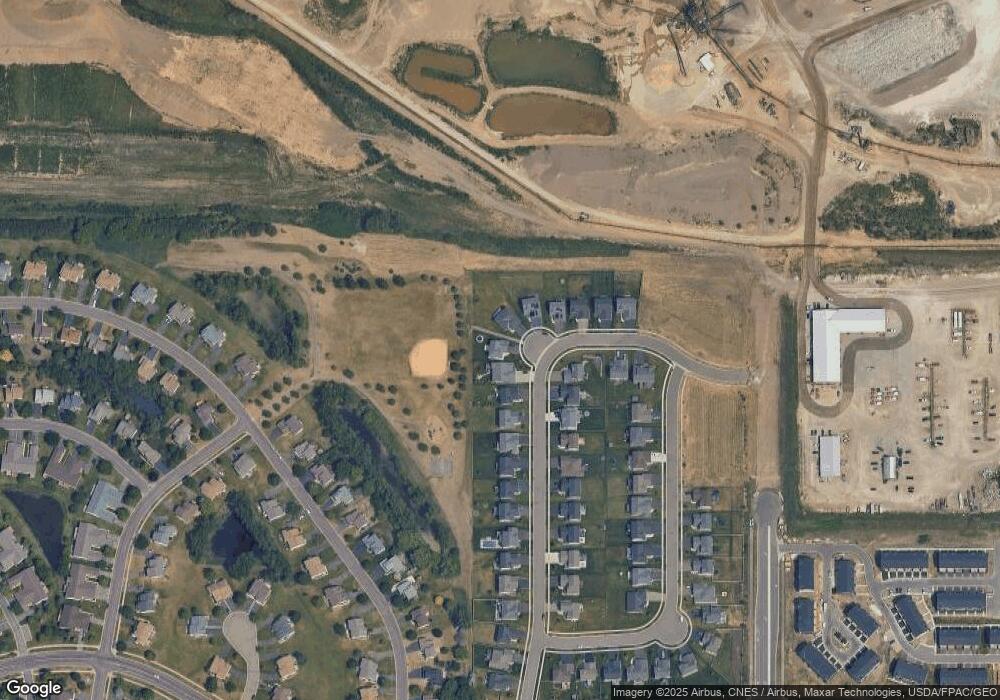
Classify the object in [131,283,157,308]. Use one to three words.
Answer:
house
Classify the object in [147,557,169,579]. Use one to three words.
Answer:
house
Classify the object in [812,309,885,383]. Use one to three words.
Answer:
building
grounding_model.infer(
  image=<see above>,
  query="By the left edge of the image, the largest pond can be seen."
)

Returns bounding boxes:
[7,491,62,568]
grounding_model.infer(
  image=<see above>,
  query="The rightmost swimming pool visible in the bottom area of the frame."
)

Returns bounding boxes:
[477,535,498,550]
